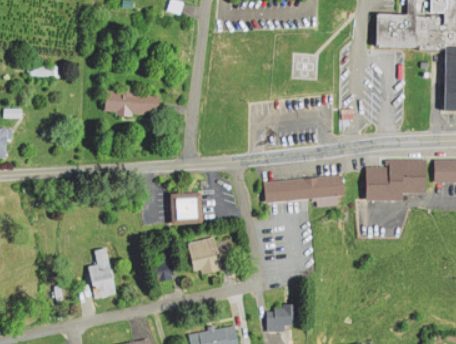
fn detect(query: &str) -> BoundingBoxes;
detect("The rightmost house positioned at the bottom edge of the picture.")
[268,304,294,332]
